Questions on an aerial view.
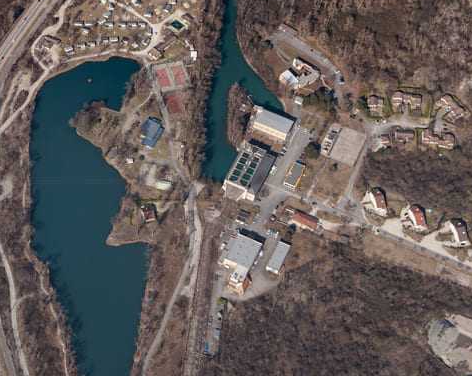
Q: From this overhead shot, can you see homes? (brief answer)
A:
Yes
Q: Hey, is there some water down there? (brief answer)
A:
Yes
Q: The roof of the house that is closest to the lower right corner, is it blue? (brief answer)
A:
No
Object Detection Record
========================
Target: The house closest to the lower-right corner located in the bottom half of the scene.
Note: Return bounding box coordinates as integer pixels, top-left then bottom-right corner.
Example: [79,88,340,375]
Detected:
[449,220,470,248]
